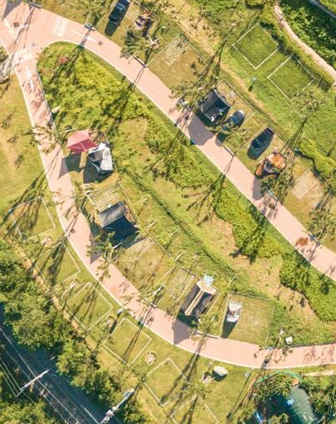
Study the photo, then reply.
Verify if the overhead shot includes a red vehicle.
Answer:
No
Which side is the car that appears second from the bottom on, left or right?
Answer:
right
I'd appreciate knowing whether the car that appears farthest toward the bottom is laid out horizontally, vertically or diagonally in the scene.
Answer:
diagonally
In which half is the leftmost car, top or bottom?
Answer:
top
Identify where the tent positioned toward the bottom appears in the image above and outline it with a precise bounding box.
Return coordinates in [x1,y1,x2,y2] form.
[181,280,219,317]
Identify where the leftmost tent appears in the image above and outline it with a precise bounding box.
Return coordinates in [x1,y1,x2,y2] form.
[88,144,113,174]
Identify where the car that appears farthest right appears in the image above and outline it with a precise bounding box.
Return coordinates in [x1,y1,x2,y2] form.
[248,126,275,156]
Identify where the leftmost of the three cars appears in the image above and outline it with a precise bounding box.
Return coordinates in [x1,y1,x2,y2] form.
[107,0,132,25]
